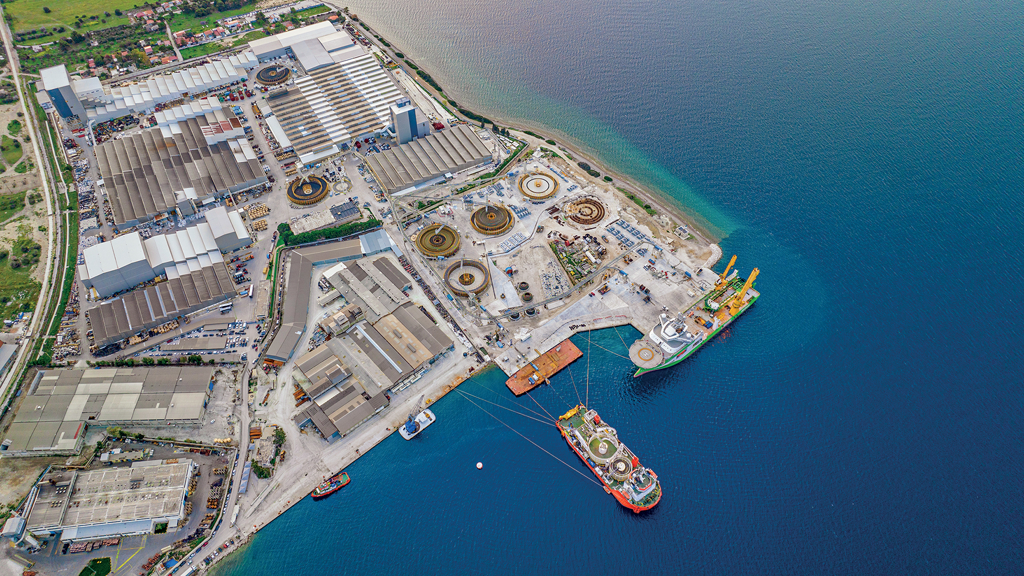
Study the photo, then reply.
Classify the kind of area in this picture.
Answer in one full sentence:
What you see here is a port.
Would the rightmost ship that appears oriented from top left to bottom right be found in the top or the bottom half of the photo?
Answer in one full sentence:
The rightmost ship that appears oriented from top left to bottom right is in the bottom half of the image.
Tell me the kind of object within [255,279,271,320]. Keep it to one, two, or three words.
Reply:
shed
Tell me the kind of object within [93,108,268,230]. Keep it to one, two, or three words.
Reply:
building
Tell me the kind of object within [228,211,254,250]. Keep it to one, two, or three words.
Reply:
building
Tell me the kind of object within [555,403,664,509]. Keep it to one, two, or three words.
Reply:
ship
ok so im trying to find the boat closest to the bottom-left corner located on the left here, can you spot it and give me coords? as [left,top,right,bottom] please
[305,471,351,498]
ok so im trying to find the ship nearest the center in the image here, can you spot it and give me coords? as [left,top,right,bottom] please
[505,339,583,397]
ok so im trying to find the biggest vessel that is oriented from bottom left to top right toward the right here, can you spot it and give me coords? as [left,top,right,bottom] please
[629,256,761,376]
